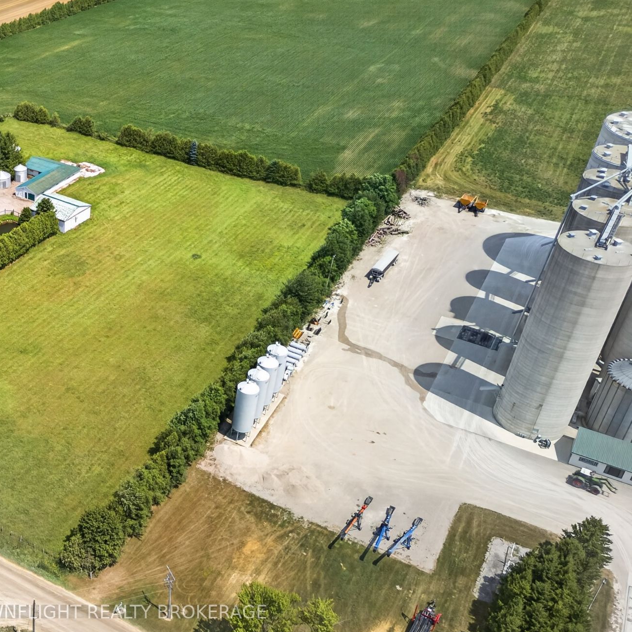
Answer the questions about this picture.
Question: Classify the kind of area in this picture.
industrial area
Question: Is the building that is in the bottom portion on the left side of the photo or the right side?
right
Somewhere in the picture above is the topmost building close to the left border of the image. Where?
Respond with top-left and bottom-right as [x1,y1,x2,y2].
[14,156,79,201]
